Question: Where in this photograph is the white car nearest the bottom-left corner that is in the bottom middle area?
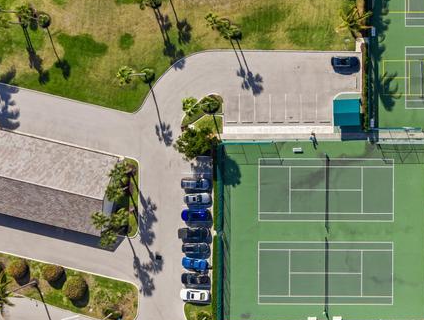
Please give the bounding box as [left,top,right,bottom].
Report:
[183,288,210,303]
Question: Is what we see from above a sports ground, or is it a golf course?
sports ground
